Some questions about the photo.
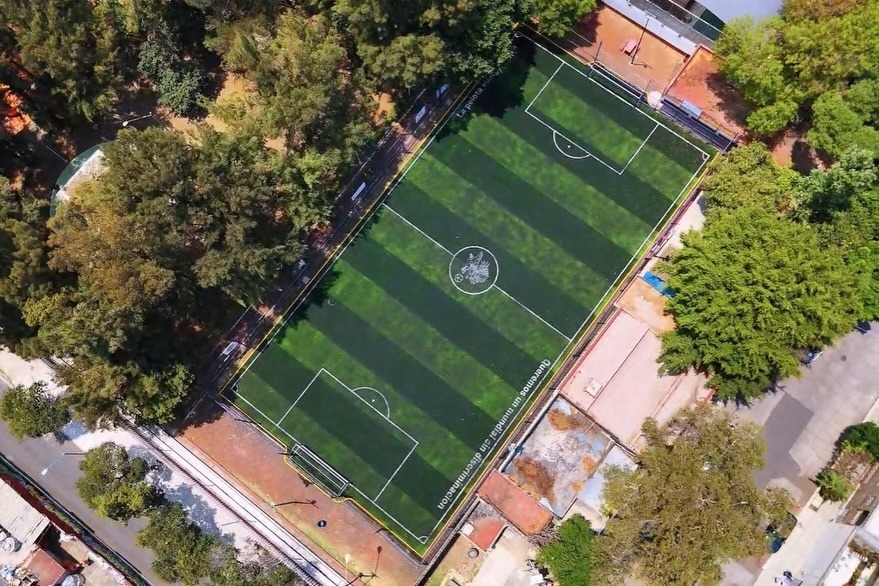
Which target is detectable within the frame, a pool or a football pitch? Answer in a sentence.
The one in the frame is a football pitch.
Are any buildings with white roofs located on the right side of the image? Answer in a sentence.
Yes, a building with a white roof appears on the right side of the image.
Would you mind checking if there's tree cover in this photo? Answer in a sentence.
Yes, the picture does contain tree cover.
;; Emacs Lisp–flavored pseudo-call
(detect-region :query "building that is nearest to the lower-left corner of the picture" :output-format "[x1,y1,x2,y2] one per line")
[14,547,76,586]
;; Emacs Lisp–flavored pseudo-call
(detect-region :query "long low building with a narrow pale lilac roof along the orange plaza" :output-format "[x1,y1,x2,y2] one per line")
[597,0,696,57]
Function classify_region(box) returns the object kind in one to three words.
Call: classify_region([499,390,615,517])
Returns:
house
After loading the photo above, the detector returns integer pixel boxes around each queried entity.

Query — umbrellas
[646,93,664,112]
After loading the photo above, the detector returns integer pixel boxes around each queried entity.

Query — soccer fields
[216,22,715,560]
